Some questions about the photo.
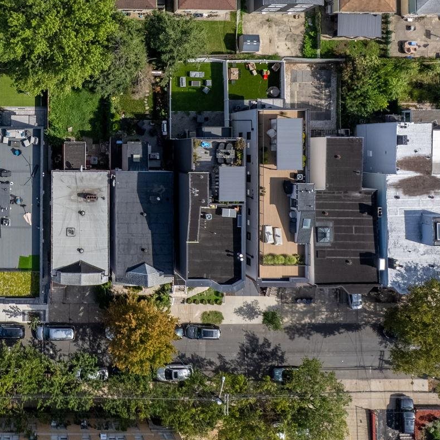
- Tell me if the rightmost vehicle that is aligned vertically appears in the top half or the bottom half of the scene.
bottom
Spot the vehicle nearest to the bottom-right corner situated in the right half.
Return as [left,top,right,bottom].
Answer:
[396,395,416,437]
